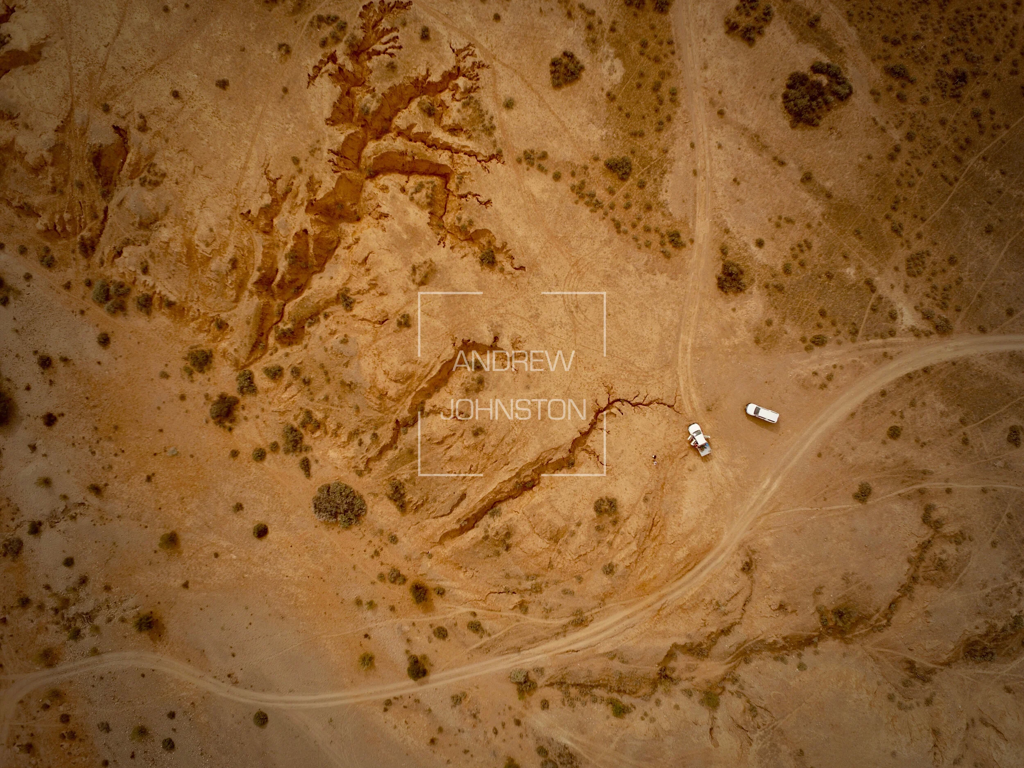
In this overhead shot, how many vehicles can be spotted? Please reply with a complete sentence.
The count of vehicles comes to 2.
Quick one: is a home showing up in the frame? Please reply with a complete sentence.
No, no home can be seen from above.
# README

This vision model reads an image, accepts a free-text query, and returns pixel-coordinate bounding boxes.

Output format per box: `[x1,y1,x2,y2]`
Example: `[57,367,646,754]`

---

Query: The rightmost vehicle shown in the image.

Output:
[745,404,781,424]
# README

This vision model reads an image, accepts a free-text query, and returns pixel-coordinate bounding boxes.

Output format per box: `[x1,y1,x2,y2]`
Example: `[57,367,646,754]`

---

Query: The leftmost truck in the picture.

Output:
[687,424,714,458]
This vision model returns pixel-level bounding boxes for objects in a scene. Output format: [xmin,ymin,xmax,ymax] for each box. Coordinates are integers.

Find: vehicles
[745,404,781,424]
[687,424,714,458]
